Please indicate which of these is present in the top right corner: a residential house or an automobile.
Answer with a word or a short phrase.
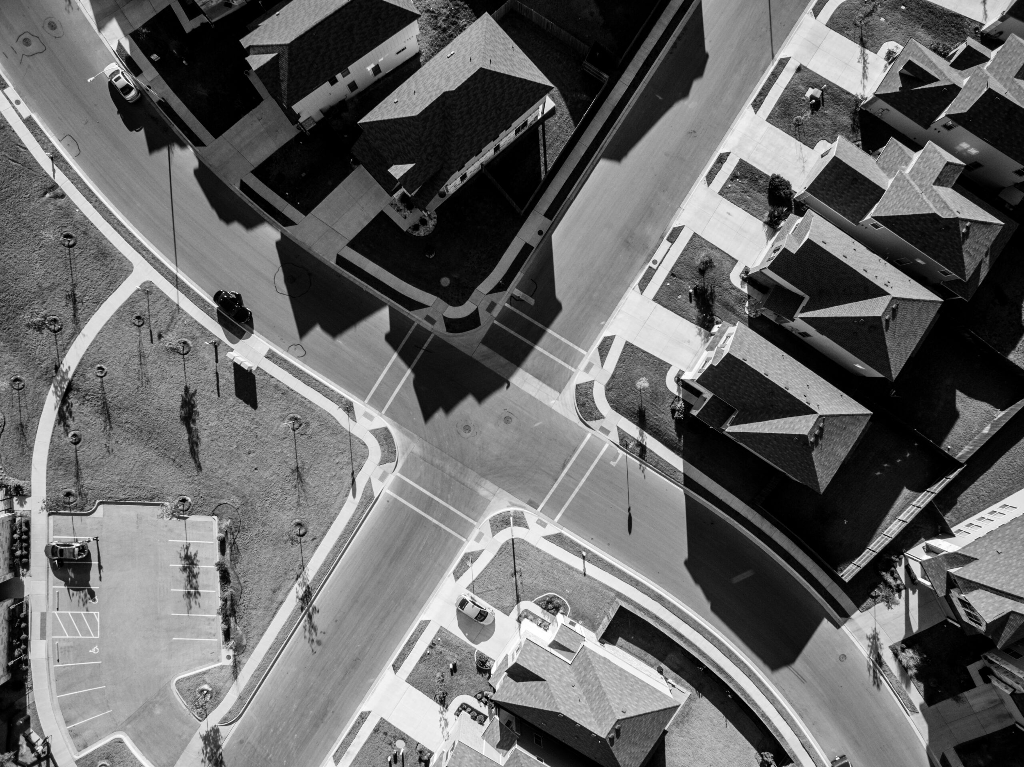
residential house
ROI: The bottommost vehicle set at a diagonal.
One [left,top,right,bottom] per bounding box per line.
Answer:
[451,593,496,628]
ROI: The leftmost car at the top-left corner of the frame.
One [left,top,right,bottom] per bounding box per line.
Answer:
[104,60,142,107]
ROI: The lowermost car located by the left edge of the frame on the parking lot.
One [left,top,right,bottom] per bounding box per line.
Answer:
[44,540,91,570]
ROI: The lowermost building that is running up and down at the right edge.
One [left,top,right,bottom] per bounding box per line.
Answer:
[992,649,1024,725]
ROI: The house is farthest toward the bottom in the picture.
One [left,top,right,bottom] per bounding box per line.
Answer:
[433,716,551,767]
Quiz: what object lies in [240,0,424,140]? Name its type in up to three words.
house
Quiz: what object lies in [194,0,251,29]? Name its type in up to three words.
house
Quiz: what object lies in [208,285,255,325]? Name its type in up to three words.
car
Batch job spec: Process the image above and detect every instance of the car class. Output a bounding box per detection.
[104,60,142,107]
[451,593,496,628]
[208,285,255,325]
[829,757,851,767]
[44,540,91,570]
